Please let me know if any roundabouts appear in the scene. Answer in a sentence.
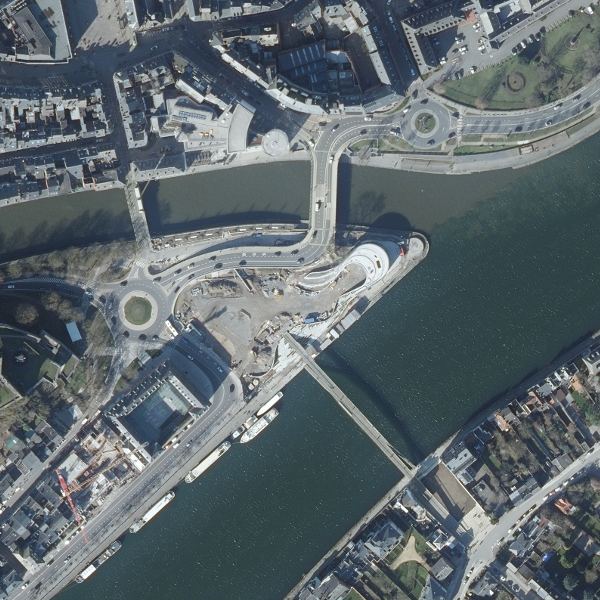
Yes, a roundabout can be made out from above.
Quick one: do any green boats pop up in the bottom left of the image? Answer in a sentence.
No, no green boat appears in the bottom left of the image.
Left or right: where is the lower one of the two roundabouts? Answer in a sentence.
The lower one of the two roundabouts is on the left side of the image.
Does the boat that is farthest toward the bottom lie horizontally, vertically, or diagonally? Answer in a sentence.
What the image shows is the boat that is farthest toward the bottom lying diagonally.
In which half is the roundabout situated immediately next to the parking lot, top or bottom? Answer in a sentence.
It is in the top half that the roundabout situated immediately next to the parking lot appears.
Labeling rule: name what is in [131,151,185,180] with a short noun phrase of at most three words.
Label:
building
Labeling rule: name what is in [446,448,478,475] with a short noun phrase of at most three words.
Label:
house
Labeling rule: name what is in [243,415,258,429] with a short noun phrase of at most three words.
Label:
boat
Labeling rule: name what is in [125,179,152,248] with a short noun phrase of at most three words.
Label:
bridge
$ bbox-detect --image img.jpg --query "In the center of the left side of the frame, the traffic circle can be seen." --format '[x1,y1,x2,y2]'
[105,278,172,343]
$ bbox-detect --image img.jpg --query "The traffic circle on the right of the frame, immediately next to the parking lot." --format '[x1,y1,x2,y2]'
[400,98,450,148]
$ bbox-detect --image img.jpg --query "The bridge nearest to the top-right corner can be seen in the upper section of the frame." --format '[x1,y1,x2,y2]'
[309,156,338,228]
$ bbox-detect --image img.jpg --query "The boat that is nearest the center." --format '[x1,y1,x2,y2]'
[256,391,284,415]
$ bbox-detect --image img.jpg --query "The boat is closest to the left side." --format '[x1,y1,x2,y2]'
[76,543,122,583]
